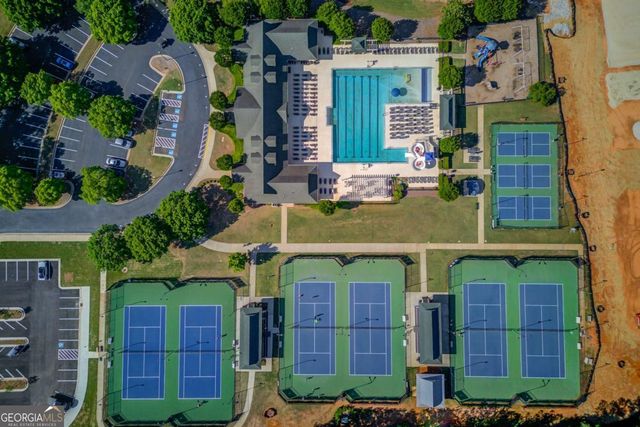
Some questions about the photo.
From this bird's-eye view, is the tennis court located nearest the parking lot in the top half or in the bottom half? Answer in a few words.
bottom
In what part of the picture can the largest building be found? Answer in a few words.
top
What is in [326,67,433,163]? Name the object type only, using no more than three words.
swimming pool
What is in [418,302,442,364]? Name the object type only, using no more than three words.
building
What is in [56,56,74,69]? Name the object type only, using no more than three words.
vehicle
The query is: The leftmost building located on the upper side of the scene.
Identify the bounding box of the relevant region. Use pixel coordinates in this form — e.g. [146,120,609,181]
[229,20,318,204]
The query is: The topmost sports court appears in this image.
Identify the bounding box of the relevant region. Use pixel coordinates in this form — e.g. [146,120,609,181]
[491,123,559,228]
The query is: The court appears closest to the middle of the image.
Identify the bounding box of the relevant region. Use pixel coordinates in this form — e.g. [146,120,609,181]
[279,257,406,401]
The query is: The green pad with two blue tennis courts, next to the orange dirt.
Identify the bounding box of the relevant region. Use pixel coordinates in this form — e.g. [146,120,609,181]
[449,258,580,406]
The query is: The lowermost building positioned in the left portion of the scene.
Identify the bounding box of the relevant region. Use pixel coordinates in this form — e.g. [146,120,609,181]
[241,306,263,370]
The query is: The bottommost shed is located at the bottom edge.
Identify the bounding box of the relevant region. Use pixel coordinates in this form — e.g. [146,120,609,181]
[415,372,445,413]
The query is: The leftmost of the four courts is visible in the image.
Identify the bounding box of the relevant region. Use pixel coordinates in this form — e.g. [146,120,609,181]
[106,281,236,425]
